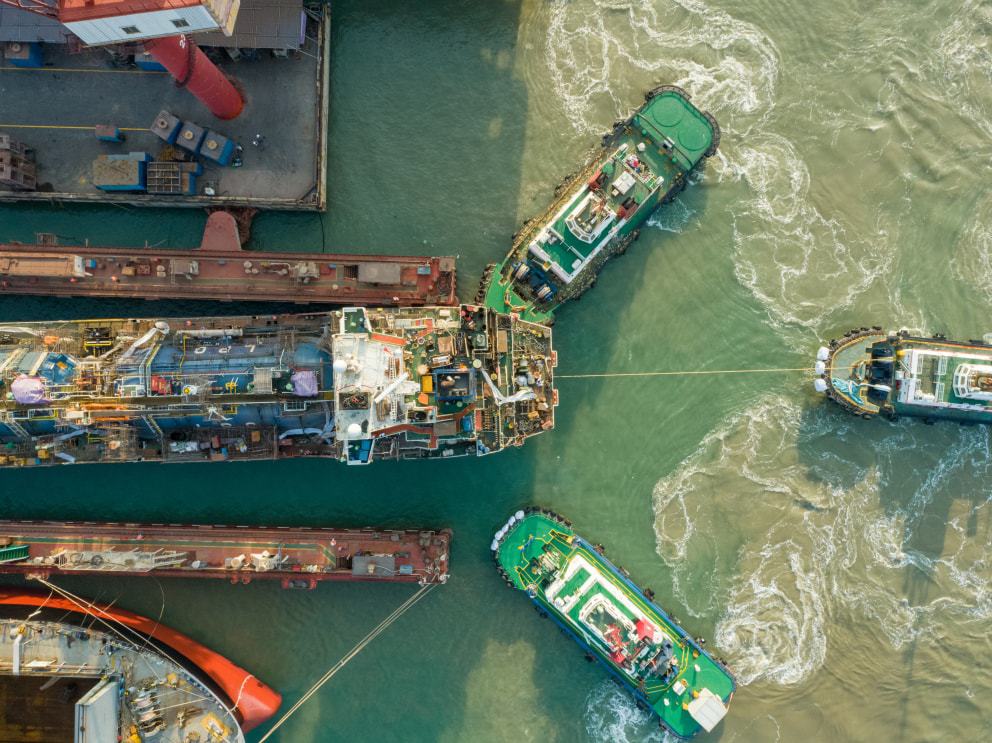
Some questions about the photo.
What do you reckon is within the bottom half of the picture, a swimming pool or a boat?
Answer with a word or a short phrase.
boat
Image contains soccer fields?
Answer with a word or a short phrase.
No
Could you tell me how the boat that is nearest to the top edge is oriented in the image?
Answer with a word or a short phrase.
diagonally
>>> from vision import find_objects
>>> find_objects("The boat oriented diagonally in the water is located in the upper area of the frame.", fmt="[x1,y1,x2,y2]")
[476,80,719,325]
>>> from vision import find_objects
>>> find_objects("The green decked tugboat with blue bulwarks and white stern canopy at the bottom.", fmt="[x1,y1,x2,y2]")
[490,510,733,740]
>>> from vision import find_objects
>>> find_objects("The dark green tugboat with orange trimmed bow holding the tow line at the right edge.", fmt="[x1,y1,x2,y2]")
[815,332,992,425]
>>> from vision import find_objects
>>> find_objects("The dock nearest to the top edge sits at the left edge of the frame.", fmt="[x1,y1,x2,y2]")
[0,0,330,207]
